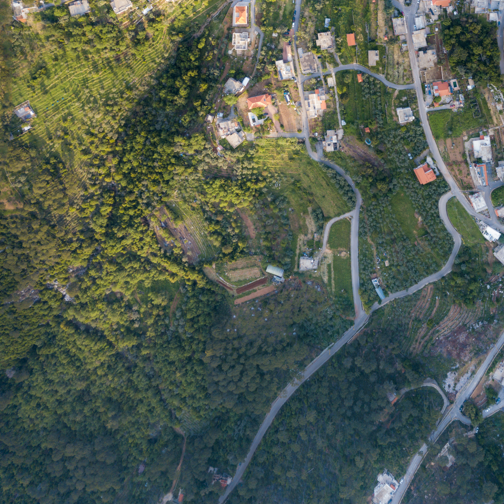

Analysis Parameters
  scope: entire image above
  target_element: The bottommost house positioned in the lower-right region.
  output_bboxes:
[375,469,397,504]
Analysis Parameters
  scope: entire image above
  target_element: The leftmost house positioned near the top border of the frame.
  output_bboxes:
[12,0,41,22]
